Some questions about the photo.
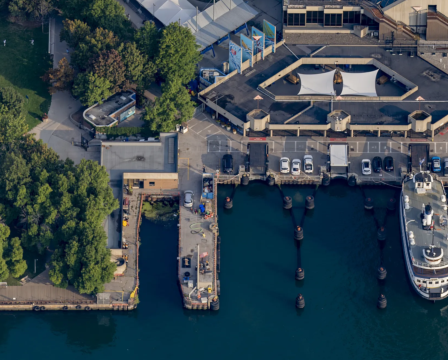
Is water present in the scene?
Yes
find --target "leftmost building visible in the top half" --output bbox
[83,89,135,138]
